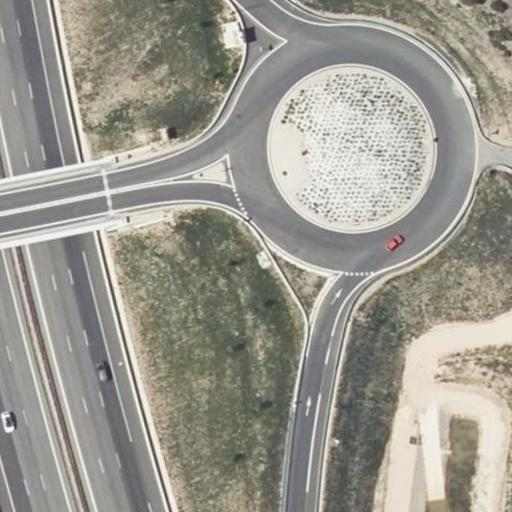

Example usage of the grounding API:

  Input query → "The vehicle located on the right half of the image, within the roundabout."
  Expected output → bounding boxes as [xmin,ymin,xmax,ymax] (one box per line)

[386,234,405,250]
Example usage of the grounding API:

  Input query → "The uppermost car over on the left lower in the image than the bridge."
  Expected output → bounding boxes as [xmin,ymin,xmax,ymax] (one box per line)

[97,361,110,383]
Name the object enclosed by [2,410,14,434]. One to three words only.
vehicle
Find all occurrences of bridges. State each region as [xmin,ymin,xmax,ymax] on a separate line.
[0,157,129,248]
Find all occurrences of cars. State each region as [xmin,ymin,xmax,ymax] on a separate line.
[386,234,405,250]
[97,361,110,383]
[2,410,14,434]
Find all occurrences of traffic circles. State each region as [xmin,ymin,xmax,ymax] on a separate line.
[228,24,482,275]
